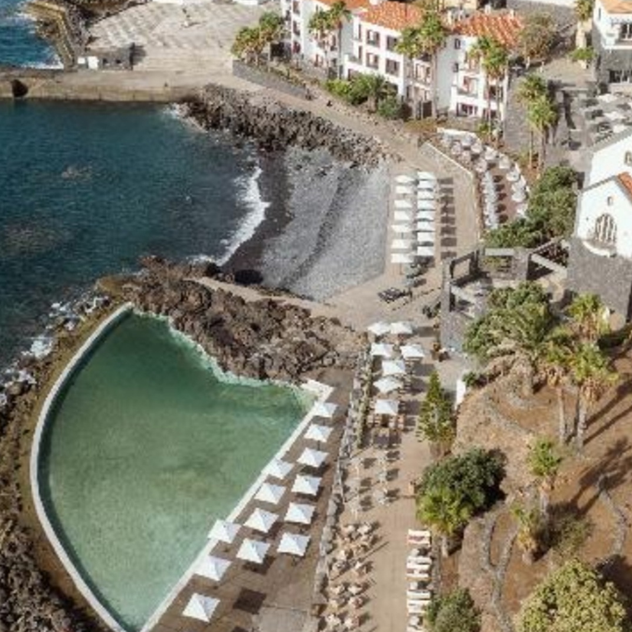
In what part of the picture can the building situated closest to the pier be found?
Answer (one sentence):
The building situated closest to the pier sits in the top left section of the image.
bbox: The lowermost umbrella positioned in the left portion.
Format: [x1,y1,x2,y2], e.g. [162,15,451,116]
[180,594,220,632]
